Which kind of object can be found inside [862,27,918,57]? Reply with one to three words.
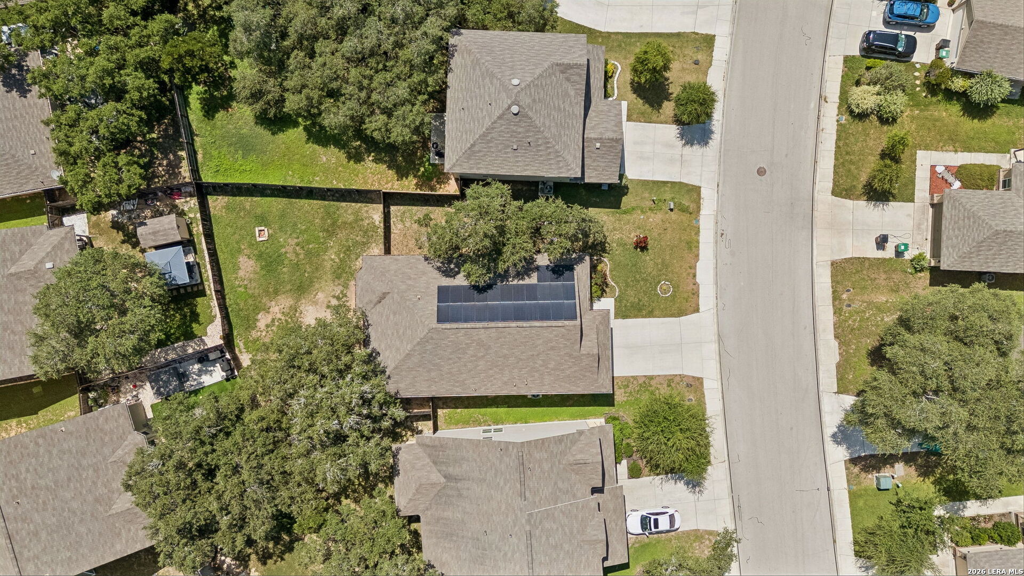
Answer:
car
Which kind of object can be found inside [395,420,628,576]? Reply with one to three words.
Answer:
house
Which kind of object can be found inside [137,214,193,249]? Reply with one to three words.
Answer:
shed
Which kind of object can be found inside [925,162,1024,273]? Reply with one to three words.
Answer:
house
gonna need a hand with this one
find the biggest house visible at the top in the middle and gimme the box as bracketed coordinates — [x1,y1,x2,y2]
[443,28,624,187]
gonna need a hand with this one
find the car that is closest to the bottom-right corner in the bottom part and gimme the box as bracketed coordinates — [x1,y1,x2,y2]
[625,506,680,536]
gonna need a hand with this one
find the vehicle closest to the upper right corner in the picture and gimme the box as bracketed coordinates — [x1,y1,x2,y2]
[886,0,940,26]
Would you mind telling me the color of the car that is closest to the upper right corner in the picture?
blue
